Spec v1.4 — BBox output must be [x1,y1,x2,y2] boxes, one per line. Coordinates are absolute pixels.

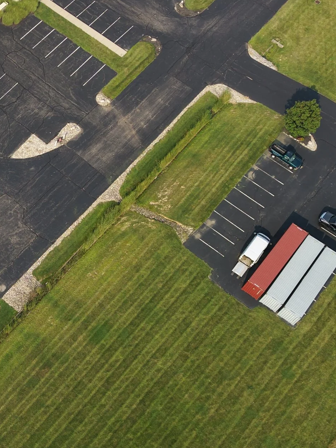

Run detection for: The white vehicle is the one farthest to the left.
[234,233,271,281]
